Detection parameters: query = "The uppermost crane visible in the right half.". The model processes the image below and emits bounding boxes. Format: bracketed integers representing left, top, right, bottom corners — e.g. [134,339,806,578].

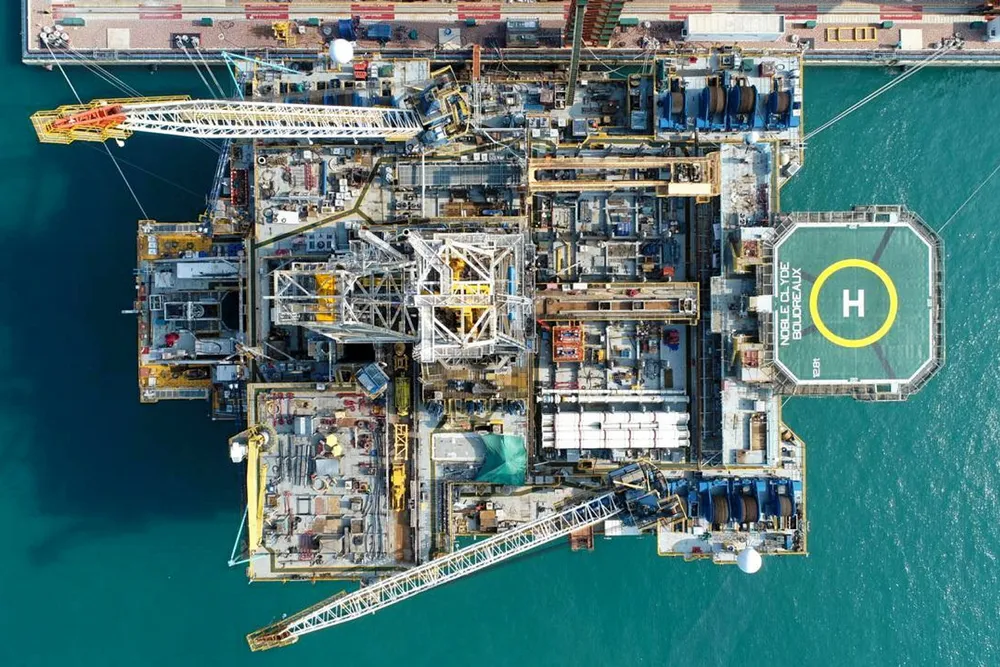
[556,0,650,107]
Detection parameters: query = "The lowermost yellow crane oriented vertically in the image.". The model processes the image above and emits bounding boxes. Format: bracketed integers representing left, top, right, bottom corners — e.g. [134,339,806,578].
[226,424,278,553]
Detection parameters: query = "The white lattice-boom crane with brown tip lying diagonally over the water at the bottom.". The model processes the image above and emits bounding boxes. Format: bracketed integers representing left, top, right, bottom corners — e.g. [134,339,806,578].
[249,448,689,655]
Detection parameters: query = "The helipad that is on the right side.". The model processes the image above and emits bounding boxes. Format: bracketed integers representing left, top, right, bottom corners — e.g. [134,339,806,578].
[749,204,944,403]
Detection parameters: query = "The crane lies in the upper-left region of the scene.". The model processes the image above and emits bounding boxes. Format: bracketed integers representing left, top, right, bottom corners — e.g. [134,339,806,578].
[35,60,477,147]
